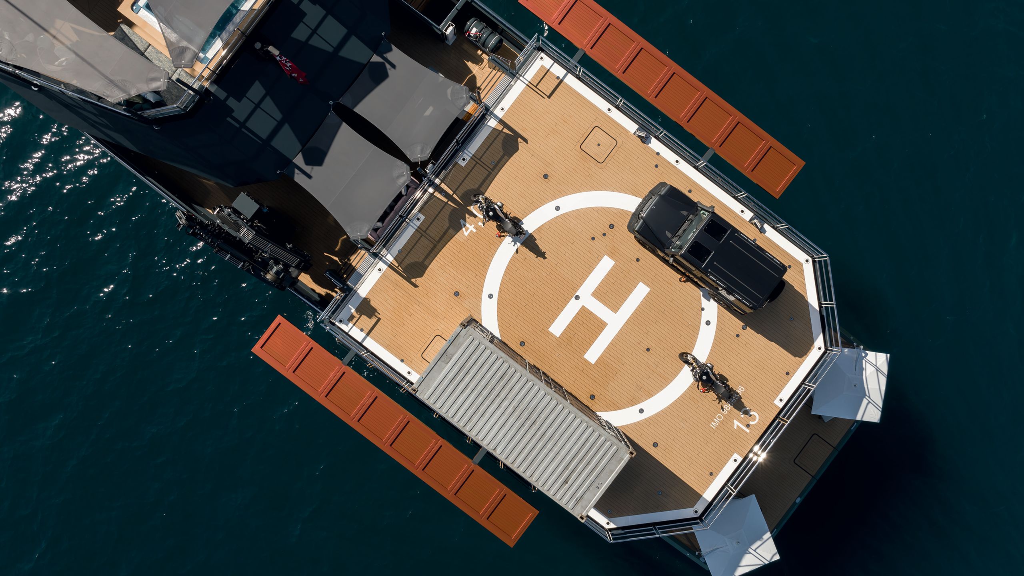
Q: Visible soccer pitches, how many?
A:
none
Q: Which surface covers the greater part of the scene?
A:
water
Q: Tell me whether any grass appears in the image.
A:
No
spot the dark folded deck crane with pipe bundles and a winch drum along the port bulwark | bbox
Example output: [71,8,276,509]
[174,192,316,297]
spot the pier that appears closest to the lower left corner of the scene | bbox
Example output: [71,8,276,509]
[252,315,538,547]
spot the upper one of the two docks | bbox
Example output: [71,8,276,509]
[519,0,806,200]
